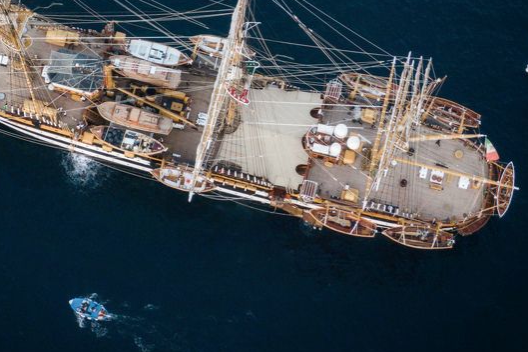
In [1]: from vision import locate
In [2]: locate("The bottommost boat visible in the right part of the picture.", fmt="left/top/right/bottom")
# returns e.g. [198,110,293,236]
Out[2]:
[384,226,456,251]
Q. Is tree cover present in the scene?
No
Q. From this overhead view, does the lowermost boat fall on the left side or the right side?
left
